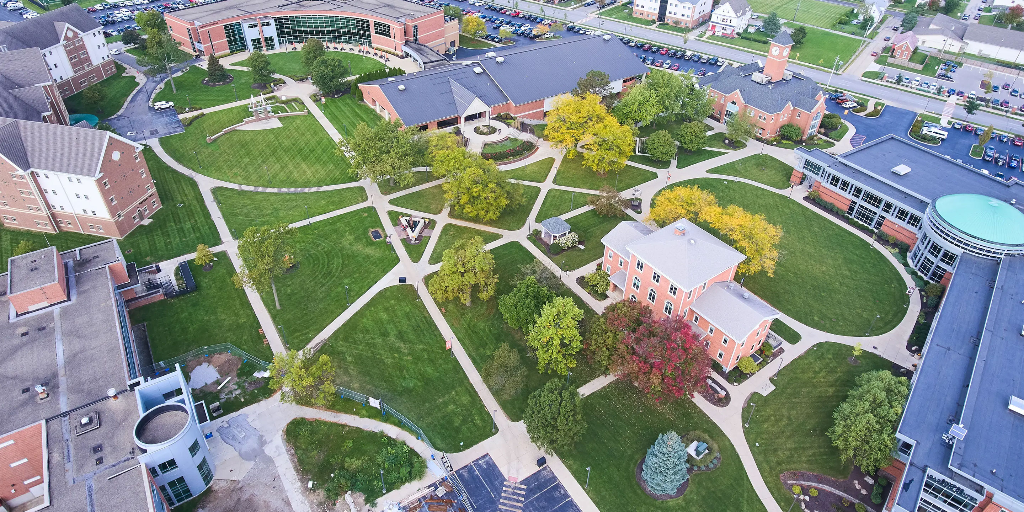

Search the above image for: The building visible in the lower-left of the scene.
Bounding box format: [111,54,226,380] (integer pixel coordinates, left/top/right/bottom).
[0,238,227,512]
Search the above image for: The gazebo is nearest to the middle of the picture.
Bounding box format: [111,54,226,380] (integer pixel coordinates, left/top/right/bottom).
[541,214,572,241]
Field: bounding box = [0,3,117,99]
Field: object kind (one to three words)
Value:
building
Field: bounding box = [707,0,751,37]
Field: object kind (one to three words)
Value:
house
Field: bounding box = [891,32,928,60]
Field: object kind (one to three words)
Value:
house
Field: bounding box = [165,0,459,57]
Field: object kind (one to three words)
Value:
building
